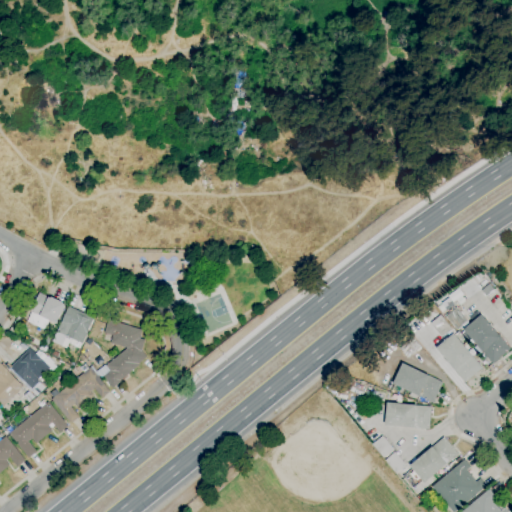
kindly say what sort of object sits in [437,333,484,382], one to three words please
building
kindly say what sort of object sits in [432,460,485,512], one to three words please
house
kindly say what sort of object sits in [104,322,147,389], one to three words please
house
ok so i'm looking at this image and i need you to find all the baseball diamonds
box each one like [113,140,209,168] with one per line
[192,419,399,512]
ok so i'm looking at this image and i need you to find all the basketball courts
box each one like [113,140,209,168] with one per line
[192,285,239,337]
